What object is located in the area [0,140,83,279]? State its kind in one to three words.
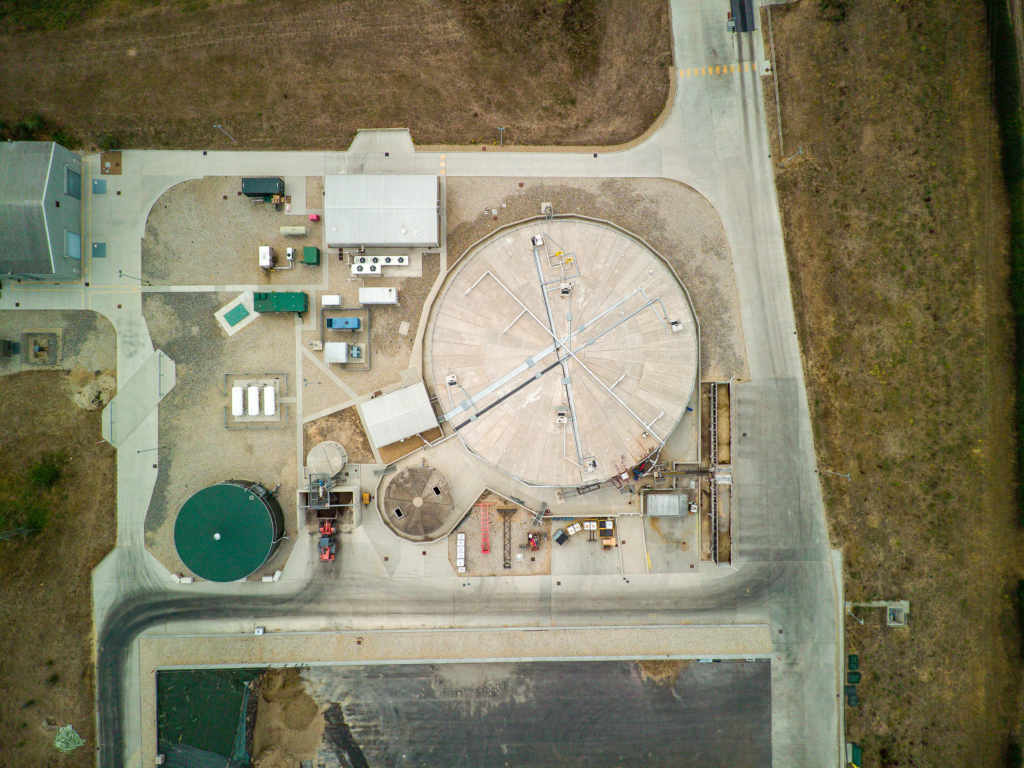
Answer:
building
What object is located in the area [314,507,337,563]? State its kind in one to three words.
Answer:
work vehicle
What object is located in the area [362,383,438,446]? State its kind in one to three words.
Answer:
shed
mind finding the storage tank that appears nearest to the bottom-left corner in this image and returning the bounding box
[172,477,296,584]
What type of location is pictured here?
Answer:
industrial area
